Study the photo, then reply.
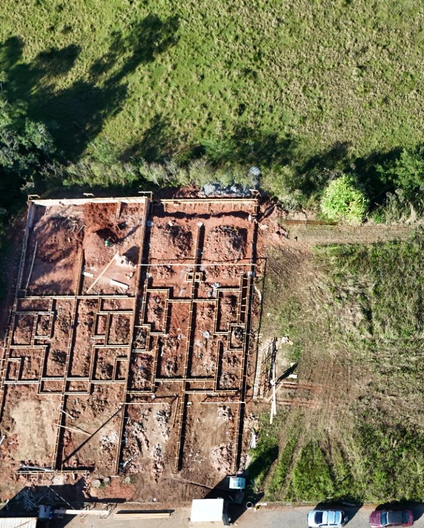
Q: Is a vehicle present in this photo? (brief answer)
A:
Yes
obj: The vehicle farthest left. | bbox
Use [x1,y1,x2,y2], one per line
[306,509,347,528]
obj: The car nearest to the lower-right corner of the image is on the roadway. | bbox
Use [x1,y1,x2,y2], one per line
[370,509,414,528]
